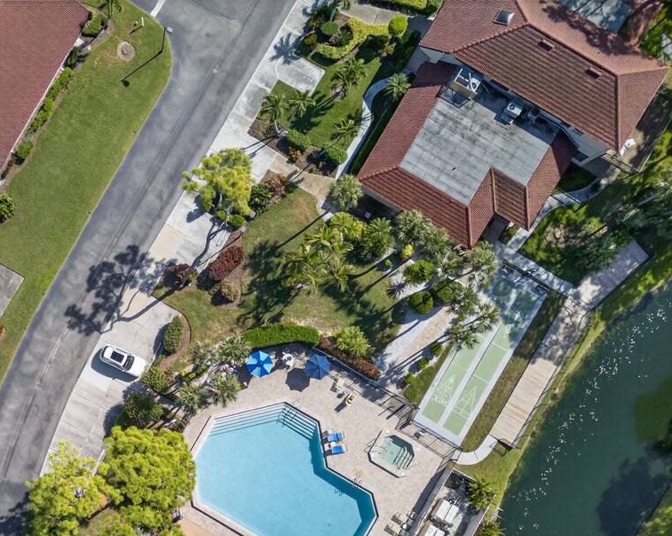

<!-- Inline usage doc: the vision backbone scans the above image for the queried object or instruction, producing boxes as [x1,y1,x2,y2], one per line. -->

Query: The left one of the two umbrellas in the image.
[247,351,272,377]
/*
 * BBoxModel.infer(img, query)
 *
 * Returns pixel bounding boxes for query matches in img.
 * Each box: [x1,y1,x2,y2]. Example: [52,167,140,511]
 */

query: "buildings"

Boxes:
[359,0,670,246]
[0,0,91,172]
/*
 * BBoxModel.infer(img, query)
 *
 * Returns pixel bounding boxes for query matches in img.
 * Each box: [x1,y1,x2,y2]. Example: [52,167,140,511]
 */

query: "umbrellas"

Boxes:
[247,351,272,377]
[303,353,330,379]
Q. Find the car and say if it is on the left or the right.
left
